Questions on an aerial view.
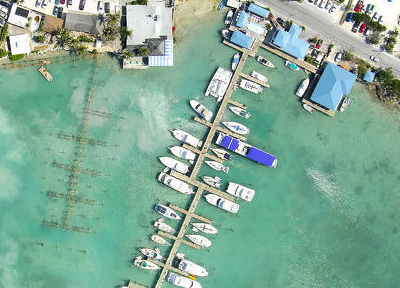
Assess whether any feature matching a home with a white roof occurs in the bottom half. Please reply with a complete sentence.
No, I see no home with a white roof in the bottom half.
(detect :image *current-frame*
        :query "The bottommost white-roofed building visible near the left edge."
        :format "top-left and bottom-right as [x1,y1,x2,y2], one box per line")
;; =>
[9,34,31,56]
